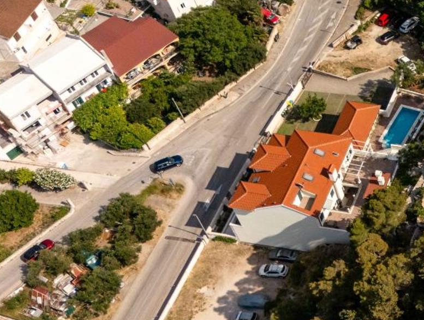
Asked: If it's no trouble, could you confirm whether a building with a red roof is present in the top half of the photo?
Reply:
Yes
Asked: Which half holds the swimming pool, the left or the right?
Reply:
right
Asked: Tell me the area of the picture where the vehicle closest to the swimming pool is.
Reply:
top right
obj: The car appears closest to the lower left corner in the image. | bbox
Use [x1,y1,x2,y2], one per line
[20,238,56,262]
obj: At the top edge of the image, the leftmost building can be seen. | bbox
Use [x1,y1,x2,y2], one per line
[0,0,55,63]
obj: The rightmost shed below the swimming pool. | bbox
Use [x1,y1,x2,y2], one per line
[368,166,390,201]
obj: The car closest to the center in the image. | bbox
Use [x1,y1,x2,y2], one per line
[151,155,184,174]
